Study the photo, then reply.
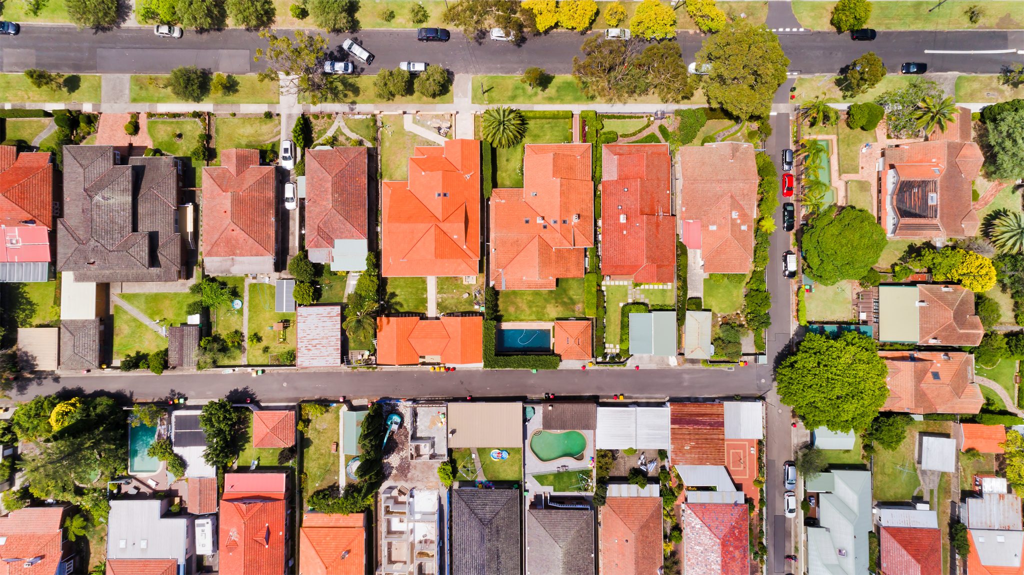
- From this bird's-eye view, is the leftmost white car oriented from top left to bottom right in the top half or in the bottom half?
top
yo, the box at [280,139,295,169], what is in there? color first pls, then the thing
white car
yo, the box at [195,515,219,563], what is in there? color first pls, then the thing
white camper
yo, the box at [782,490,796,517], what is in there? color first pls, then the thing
white car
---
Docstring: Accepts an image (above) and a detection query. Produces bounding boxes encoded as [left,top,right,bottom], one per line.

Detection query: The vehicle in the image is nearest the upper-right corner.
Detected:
[899,61,926,75]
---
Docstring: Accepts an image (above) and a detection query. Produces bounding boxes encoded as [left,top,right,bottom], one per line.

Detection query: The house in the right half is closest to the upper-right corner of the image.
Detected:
[867,104,984,238]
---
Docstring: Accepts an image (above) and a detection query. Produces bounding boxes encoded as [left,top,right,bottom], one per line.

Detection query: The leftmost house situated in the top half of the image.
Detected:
[0,145,61,282]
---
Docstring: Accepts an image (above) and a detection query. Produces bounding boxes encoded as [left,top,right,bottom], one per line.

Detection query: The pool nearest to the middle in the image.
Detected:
[495,326,554,355]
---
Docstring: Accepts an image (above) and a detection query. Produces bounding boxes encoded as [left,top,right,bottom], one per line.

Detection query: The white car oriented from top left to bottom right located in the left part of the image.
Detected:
[343,41,374,65]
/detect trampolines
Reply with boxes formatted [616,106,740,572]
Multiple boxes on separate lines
[231,299,243,310]
[345,459,363,479]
